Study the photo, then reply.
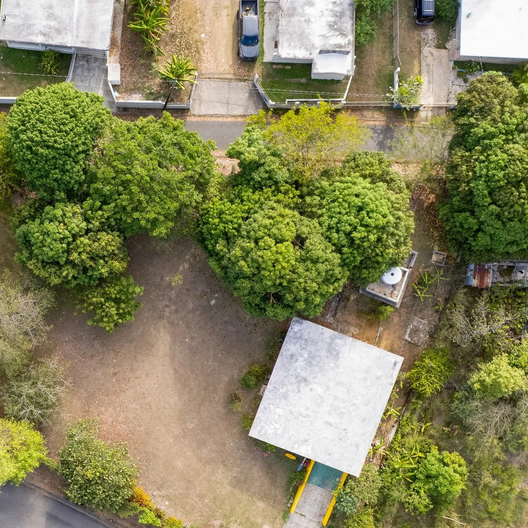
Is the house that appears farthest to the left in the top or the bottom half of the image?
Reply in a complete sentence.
The house that appears farthest to the left is in the top half of the image.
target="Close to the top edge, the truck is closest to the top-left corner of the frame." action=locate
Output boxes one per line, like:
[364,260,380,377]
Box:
[236,0,262,58]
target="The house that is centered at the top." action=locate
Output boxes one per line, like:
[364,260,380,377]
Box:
[270,0,357,85]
